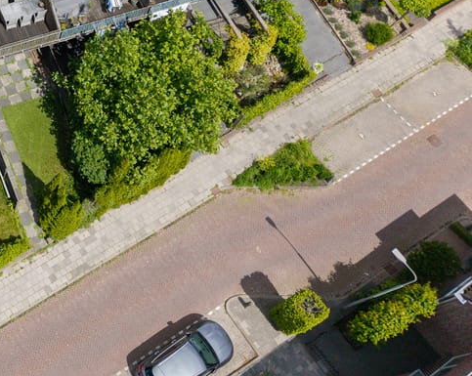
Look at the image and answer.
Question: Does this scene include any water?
No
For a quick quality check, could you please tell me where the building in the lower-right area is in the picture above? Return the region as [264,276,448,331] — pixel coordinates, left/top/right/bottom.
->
[438,283,472,347]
